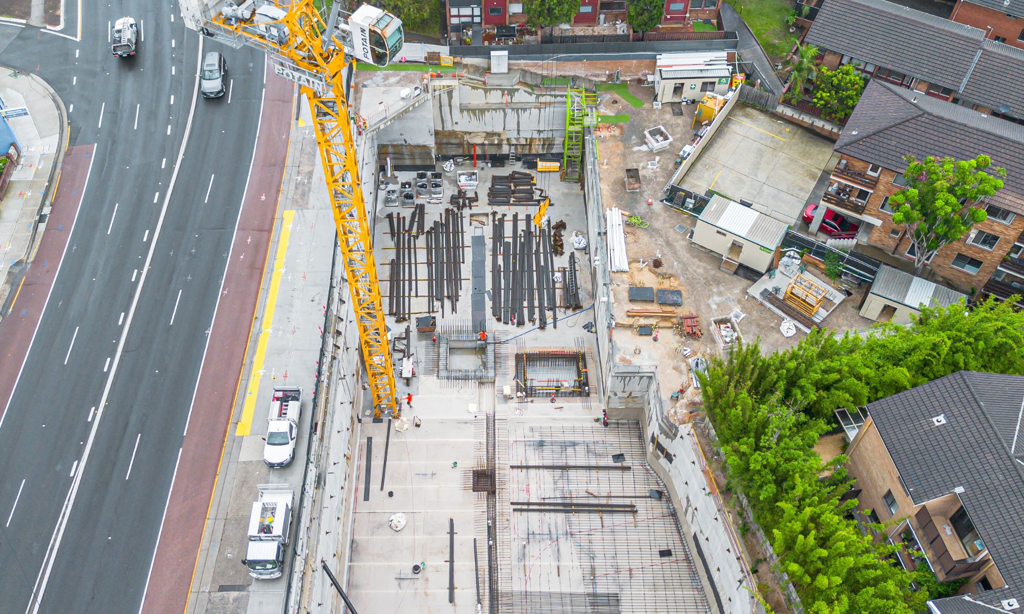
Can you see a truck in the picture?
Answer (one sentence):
Yes, a truck can be made out from above.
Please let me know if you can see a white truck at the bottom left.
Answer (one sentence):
Yes, a white truck can be seen at the bottom left.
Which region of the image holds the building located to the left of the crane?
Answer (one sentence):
The building located to the left of the crane is in the top left part of the image.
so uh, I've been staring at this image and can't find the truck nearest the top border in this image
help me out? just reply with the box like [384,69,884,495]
[107,17,135,54]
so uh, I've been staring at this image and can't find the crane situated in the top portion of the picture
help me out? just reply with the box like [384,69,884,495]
[170,0,410,420]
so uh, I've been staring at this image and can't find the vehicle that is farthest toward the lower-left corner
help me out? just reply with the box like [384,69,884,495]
[234,484,292,585]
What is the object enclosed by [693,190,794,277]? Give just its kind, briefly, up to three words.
shed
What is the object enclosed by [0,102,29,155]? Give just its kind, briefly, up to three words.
building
